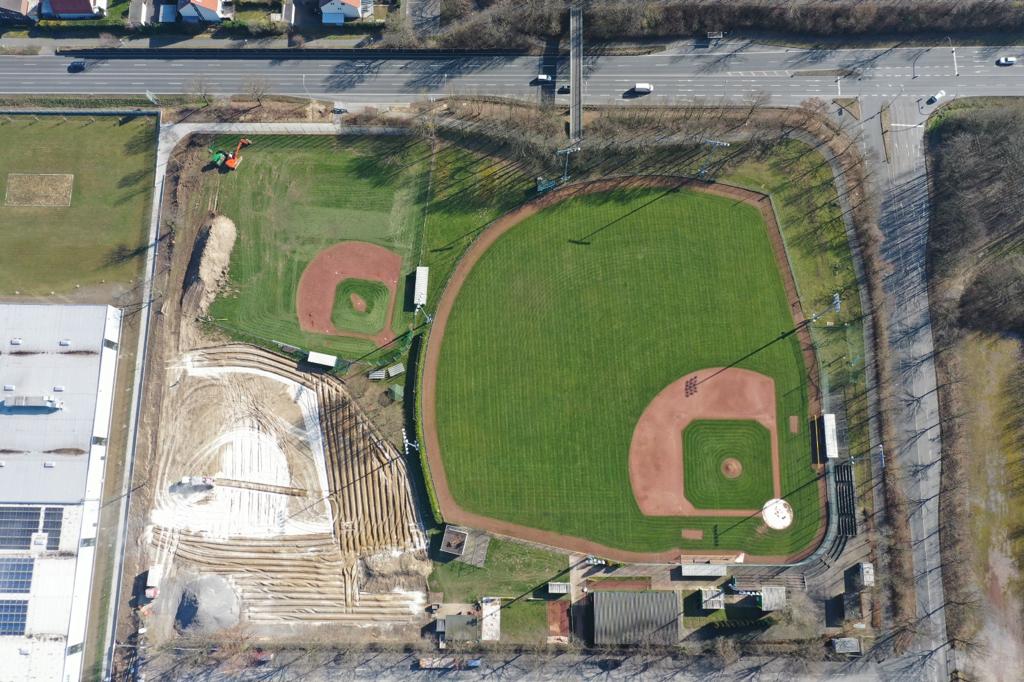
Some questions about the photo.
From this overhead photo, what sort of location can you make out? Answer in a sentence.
This looks like a sports ground.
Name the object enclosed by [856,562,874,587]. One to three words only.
building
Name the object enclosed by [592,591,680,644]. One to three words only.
building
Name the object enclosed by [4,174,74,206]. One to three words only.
sports field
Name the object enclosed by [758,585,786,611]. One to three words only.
shed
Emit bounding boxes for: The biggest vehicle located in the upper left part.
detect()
[224,140,252,173]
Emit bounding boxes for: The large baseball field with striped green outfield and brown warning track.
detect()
[422,175,828,565]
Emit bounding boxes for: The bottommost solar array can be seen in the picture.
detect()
[0,601,30,635]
